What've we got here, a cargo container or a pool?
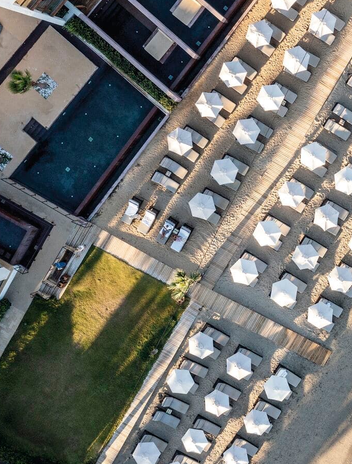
pool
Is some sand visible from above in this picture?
Yes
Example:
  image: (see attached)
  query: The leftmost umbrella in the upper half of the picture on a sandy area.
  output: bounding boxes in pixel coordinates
[168,127,195,156]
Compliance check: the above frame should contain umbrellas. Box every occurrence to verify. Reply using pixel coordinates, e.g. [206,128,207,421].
[300,143,330,171]
[328,264,352,293]
[189,330,216,360]
[269,277,299,306]
[277,179,307,207]
[190,193,218,218]
[307,299,337,328]
[230,256,257,285]
[226,350,255,379]
[180,425,209,455]
[168,127,195,156]
[203,391,232,417]
[168,368,198,397]
[212,158,242,184]
[234,120,260,147]
[309,10,338,37]
[313,206,341,231]
[255,222,283,249]
[246,405,274,436]
[286,47,314,76]
[135,438,161,464]
[246,19,275,47]
[195,91,223,121]
[257,83,286,111]
[290,240,318,267]
[335,168,352,195]
[220,58,246,88]
[268,0,295,12]
[263,373,292,402]
[224,445,250,464]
